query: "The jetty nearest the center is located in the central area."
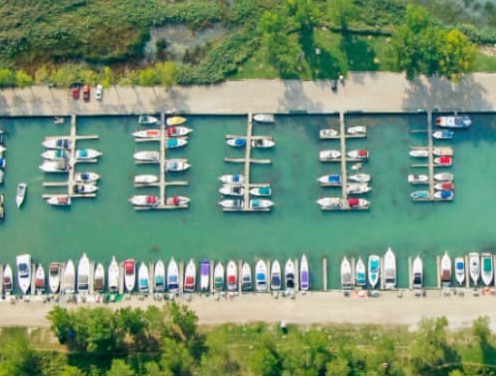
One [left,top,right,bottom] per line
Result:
[223,115,271,212]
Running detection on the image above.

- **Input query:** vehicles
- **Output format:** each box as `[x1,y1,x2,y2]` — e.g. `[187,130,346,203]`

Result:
[96,85,103,99]
[72,85,78,99]
[82,84,90,100]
